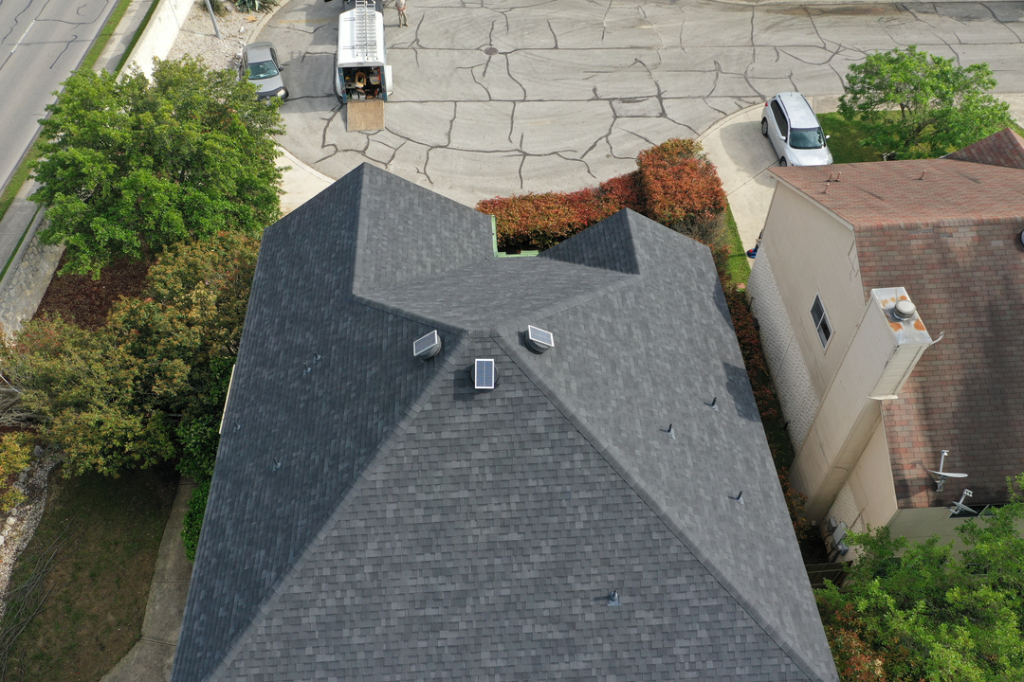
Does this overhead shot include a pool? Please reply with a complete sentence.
No, I can see no pool in this picture.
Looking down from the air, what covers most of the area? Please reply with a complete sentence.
The scene is dominated by buildings.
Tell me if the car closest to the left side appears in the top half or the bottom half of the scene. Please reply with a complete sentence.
The top half of the photo is where the car closest to the left side is.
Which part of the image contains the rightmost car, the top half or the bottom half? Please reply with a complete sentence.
The rightmost car sits in the top half of the picture.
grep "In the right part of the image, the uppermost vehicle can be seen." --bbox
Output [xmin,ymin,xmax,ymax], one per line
[759,87,834,168]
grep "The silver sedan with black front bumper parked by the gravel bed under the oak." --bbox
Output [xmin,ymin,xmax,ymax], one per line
[240,41,287,100]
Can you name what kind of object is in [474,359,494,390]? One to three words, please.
solar panel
